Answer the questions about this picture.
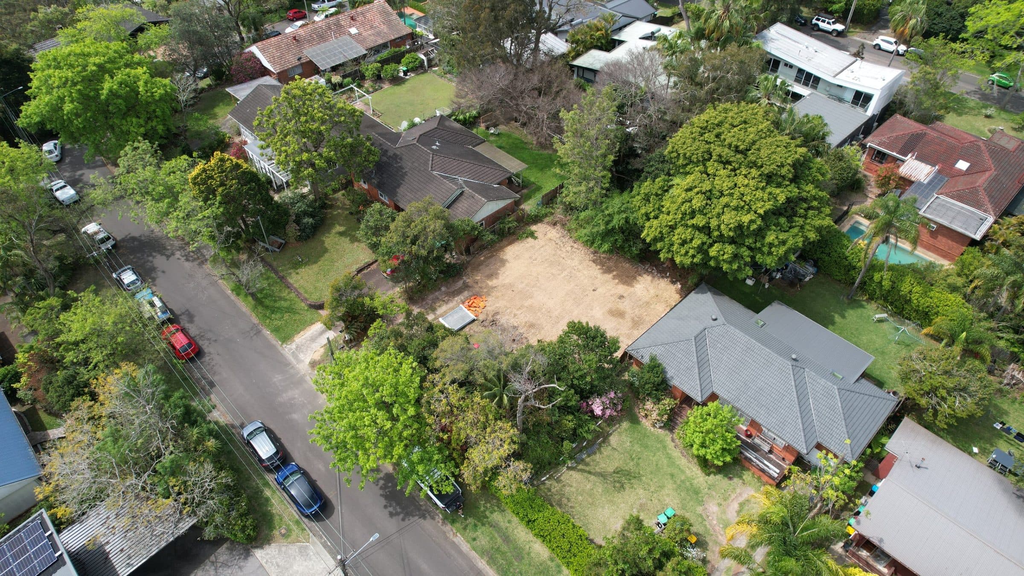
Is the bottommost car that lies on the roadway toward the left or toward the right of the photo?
left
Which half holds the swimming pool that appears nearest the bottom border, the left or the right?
right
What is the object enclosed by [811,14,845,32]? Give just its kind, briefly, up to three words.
car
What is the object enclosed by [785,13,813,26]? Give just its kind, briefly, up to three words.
vehicle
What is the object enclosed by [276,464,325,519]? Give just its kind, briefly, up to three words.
car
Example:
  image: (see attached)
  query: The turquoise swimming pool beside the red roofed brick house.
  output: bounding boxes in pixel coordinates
[841,215,937,270]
